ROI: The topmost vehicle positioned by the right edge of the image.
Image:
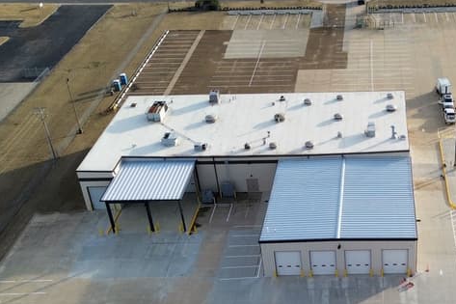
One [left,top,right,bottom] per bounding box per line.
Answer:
[435,72,455,107]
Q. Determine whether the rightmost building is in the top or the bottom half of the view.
bottom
